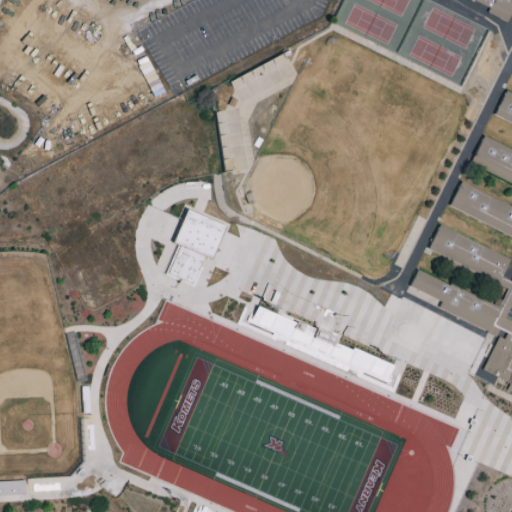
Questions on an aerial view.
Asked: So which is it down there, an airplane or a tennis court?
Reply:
tennis court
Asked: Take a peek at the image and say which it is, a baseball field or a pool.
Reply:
baseball field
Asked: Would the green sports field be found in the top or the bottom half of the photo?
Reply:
bottom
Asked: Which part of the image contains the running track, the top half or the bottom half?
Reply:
bottom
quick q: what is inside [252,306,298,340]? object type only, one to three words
building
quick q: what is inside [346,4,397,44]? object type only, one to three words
tennis court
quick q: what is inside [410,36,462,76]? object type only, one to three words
tennis court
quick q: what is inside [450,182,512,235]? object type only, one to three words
building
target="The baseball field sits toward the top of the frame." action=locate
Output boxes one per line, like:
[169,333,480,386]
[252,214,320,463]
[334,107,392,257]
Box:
[246,28,464,280]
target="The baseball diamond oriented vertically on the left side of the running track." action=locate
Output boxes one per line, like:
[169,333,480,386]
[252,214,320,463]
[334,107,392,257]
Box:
[0,252,82,479]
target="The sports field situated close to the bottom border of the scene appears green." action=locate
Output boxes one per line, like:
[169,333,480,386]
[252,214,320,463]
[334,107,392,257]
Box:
[126,346,406,512]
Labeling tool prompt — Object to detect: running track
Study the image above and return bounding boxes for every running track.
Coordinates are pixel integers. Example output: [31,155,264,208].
[103,302,458,512]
